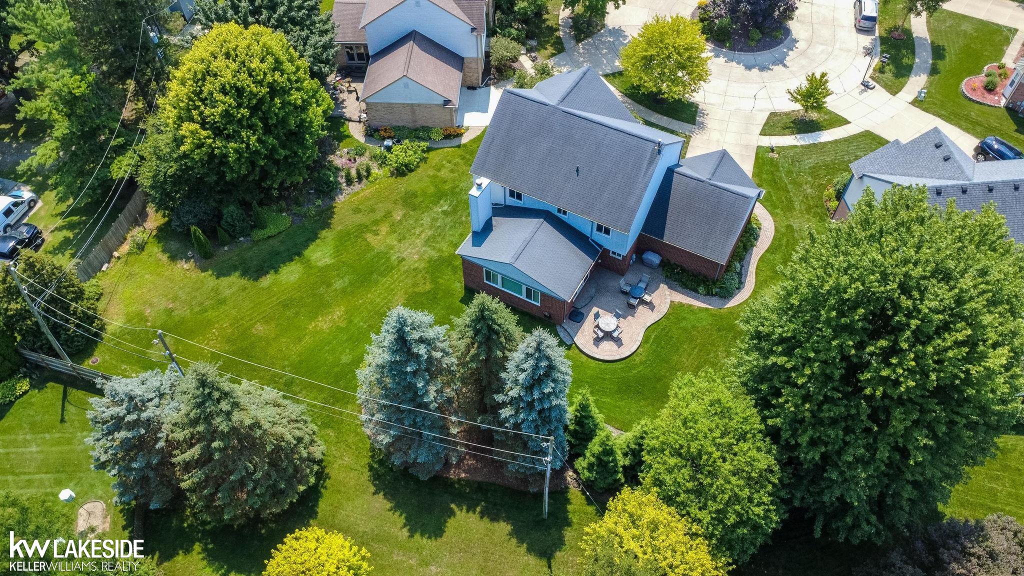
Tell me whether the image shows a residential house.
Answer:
Yes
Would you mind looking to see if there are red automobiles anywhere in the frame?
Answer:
No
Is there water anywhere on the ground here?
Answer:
No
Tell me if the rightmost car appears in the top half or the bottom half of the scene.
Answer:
top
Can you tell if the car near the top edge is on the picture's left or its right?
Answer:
right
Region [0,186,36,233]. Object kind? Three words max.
van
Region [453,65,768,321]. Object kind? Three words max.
house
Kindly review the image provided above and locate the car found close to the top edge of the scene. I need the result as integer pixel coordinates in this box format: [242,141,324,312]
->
[843,0,881,28]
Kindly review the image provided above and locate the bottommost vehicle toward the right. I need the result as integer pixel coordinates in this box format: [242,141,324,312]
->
[971,132,1024,160]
